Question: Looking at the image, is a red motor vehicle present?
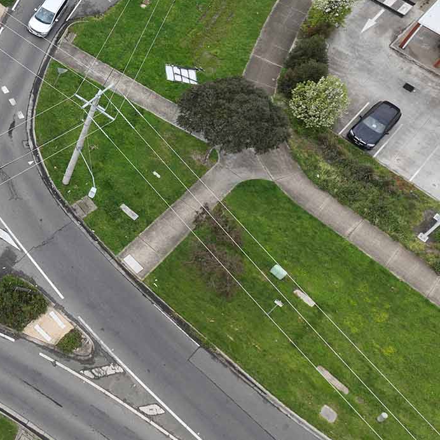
No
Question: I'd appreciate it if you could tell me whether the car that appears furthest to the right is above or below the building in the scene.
below it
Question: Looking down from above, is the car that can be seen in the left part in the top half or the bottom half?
top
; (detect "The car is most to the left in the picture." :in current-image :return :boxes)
[29,0,70,38]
